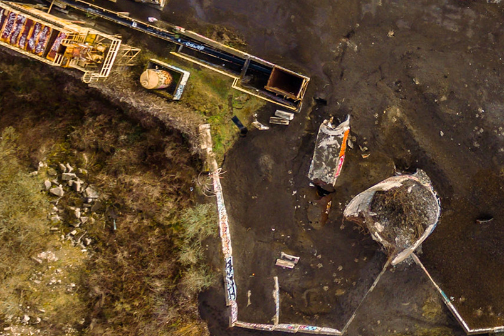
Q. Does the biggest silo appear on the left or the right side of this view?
right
